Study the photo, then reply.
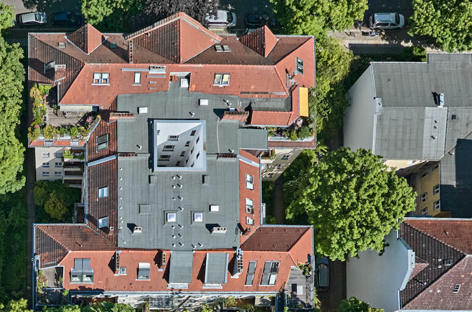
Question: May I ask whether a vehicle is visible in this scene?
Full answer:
Yes, I can see a vehicle in this picture.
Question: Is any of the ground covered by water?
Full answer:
No, there's no water in this view.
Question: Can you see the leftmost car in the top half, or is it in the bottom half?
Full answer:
You can find the leftmost car in the top half.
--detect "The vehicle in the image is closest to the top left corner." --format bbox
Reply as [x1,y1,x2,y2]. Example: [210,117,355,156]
[16,8,48,28]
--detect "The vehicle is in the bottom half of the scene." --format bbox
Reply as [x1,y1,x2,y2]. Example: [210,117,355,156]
[315,256,333,294]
